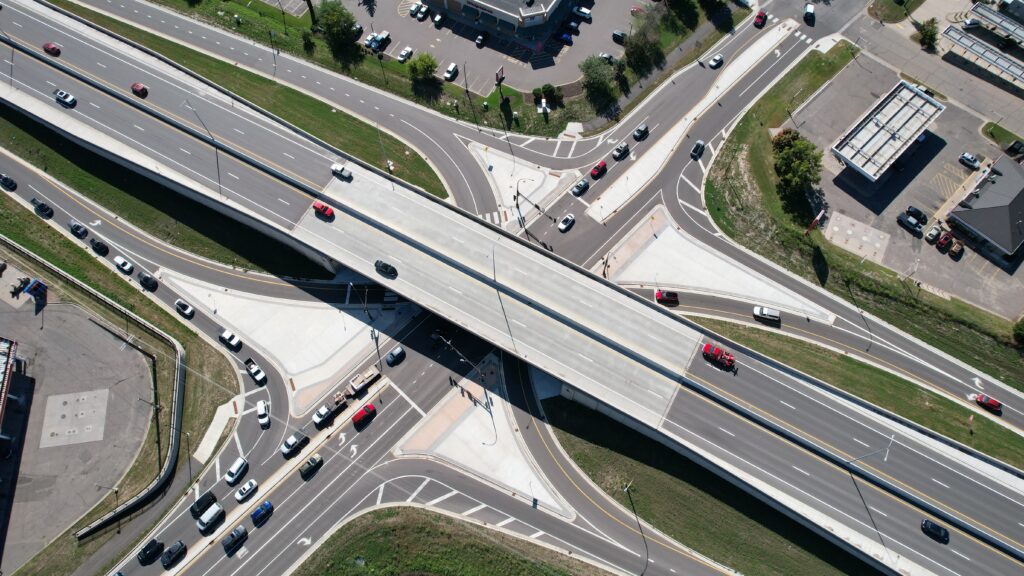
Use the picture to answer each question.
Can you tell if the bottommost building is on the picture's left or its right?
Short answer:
right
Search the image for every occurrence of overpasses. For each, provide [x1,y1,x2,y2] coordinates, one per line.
[284,156,706,433]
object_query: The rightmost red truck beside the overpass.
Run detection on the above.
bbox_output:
[701,342,743,368]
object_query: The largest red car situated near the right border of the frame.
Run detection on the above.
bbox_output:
[974,394,1002,412]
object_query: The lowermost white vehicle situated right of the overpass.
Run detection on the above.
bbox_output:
[753,308,782,321]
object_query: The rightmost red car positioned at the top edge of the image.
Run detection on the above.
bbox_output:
[755,12,767,26]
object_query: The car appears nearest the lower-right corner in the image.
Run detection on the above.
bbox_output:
[919,518,950,543]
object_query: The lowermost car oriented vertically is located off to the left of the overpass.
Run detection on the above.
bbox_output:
[257,401,269,426]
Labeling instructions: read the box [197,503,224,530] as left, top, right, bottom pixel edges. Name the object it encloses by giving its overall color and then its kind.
white vehicle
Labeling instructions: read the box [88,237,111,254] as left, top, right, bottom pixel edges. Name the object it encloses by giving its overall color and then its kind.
black vehicle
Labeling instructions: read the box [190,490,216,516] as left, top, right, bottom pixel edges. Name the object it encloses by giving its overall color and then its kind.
black car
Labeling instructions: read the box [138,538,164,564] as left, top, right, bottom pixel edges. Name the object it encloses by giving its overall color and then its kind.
black car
